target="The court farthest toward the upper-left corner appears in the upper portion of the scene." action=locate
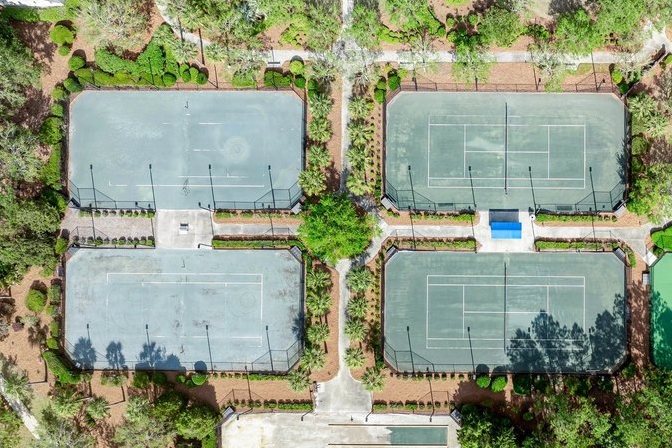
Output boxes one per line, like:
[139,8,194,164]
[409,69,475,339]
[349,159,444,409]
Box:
[68,91,302,210]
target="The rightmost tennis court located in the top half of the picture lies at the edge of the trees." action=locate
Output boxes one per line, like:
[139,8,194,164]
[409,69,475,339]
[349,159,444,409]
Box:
[385,92,627,212]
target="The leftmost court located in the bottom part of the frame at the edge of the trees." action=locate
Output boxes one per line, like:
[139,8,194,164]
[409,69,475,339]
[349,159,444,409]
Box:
[64,249,302,372]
